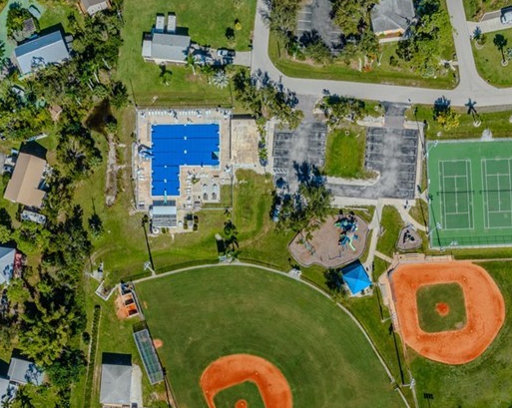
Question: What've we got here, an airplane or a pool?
pool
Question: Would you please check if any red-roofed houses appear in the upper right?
No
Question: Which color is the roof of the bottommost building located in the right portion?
blue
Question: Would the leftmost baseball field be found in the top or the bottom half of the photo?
bottom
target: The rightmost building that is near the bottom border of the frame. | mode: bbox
[100,364,132,405]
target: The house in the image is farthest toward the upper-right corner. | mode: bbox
[371,0,415,36]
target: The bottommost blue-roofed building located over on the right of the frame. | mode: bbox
[341,261,372,296]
